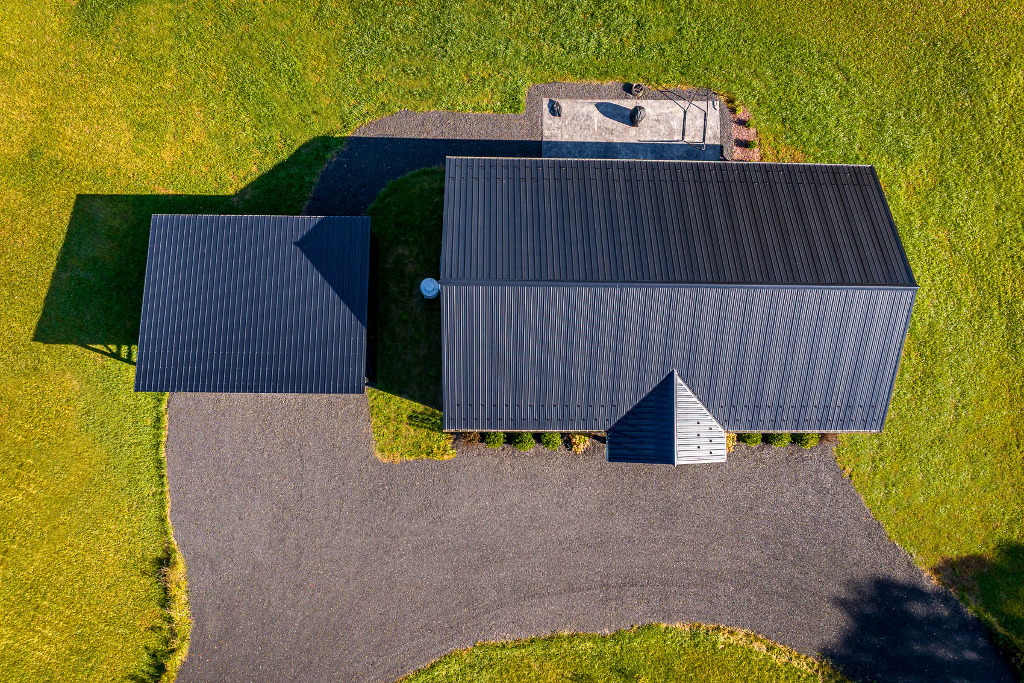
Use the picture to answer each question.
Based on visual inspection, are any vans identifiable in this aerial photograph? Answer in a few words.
No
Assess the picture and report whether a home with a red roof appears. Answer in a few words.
No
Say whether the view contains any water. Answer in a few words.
No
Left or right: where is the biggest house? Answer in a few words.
right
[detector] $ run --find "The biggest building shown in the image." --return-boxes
[439,156,922,466]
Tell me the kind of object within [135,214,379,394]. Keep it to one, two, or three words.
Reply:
shed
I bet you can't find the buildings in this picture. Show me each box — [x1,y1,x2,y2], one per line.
[135,214,379,394]
[439,156,922,466]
